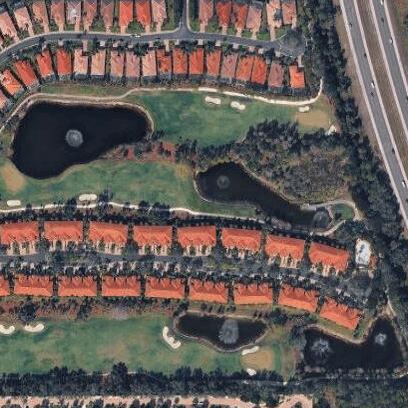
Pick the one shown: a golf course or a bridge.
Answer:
golf course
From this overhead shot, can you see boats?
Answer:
No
